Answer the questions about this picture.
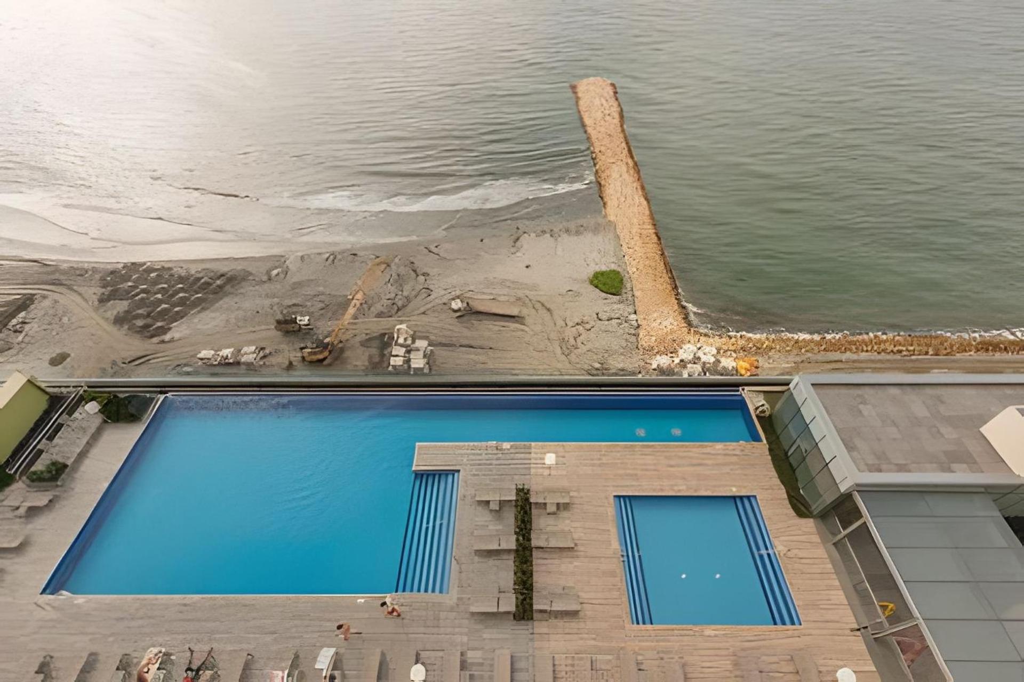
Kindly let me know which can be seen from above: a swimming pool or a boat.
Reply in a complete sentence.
Looking from above, you can make out a swimming pool.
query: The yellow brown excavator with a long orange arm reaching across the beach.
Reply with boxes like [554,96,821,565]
[284,271,384,376]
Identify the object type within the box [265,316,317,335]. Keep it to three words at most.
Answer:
vehicle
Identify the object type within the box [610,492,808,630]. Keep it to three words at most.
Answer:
swimming pool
